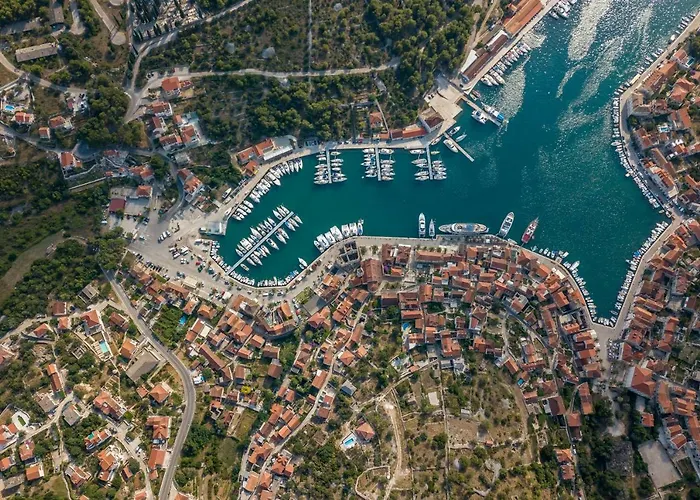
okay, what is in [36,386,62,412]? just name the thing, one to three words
house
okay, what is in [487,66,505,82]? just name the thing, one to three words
boat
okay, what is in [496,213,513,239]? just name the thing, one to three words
ship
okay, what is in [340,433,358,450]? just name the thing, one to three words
swimming pool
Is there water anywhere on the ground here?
Yes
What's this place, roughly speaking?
residential area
